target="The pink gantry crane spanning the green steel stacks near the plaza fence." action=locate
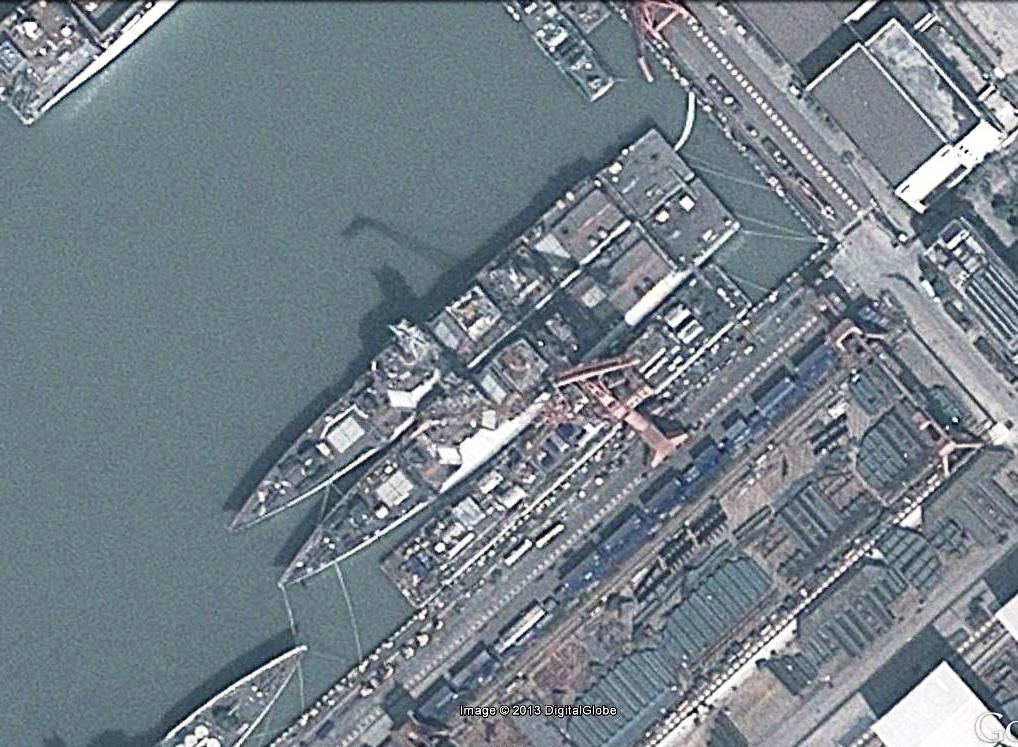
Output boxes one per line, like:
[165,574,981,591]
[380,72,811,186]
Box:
[835,324,990,473]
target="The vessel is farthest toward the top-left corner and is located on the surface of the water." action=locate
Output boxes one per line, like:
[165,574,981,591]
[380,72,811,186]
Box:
[0,0,197,122]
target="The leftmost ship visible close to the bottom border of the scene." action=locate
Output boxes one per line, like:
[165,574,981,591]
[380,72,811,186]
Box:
[156,647,306,747]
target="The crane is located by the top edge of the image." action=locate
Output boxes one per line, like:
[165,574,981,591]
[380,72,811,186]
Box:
[621,0,688,82]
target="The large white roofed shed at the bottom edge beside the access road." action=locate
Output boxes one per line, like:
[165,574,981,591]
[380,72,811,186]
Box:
[871,662,1018,747]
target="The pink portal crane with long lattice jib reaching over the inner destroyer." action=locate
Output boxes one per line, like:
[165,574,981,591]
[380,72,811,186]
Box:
[410,352,694,471]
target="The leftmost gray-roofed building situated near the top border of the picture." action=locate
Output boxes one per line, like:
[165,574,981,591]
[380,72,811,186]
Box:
[743,0,899,76]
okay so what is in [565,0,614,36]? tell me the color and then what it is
gray ship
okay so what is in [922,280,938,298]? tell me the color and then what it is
white vehicle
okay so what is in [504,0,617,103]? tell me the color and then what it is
gray boat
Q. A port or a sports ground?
port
